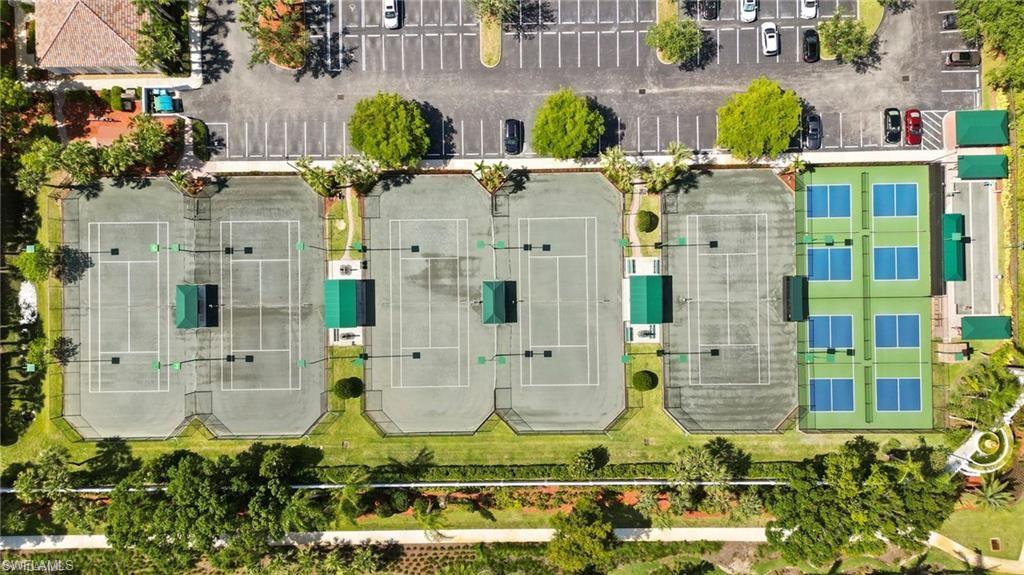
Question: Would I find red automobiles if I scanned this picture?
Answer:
Yes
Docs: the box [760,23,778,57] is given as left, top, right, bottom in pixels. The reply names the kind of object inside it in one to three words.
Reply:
car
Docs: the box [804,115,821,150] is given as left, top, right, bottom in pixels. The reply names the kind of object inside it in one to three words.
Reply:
car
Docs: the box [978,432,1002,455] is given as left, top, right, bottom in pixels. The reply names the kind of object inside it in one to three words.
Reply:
fountain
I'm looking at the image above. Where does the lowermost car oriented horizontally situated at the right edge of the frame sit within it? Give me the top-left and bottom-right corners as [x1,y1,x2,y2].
[945,51,979,68]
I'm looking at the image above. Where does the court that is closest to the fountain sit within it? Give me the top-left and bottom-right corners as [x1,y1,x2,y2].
[866,295,933,430]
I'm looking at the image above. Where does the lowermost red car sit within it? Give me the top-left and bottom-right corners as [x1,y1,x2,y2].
[904,110,922,145]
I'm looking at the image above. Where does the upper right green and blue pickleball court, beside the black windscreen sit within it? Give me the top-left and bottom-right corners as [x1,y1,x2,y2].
[865,163,931,296]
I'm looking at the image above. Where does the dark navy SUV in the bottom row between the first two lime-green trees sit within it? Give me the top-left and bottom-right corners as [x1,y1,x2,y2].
[505,120,521,154]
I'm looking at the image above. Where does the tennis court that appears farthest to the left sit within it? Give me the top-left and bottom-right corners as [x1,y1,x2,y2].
[62,178,193,438]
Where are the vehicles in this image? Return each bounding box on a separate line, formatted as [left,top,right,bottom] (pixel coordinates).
[904,110,922,145]
[760,23,778,57]
[945,51,979,68]
[740,0,757,25]
[702,0,717,22]
[505,120,521,154]
[383,0,399,29]
[883,109,901,143]
[800,0,817,20]
[802,30,819,64]
[804,115,821,150]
